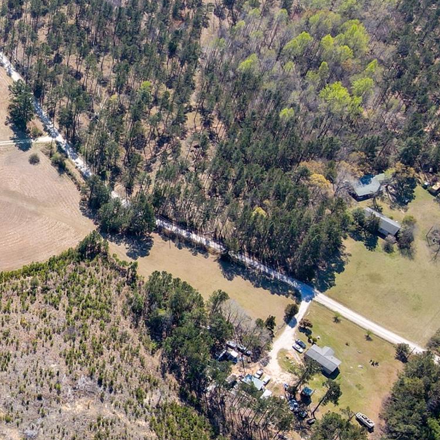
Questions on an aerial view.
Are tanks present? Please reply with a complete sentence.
No, there appears to be no tank in this shot.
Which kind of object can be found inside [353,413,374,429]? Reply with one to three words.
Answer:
camper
